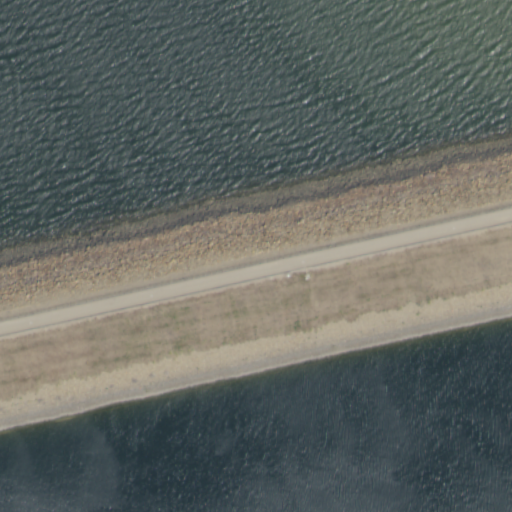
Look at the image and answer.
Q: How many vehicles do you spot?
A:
0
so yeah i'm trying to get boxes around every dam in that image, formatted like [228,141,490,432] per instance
[0,126,512,448]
